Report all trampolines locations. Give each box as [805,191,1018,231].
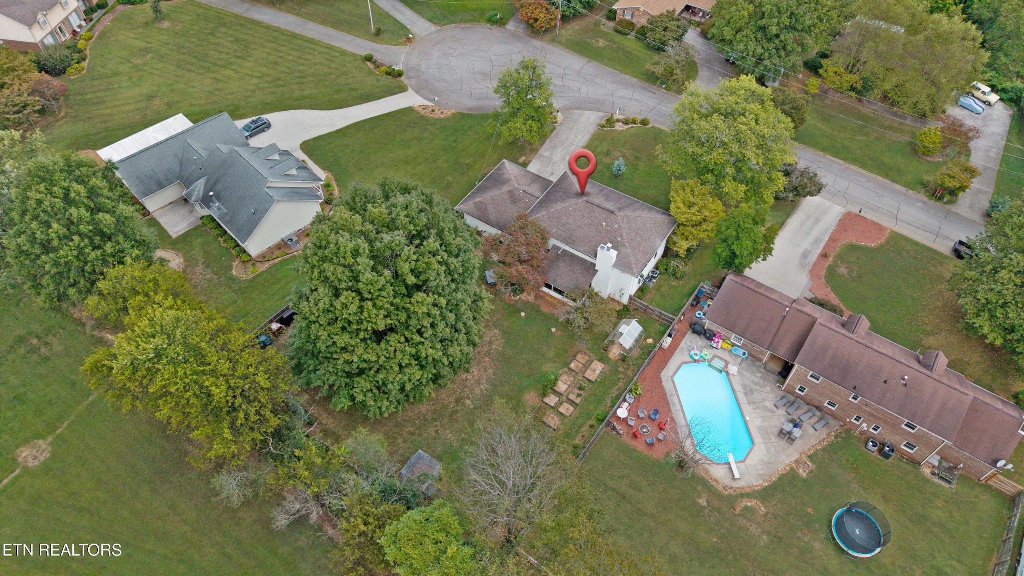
[826,502,892,564]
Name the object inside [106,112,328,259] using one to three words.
house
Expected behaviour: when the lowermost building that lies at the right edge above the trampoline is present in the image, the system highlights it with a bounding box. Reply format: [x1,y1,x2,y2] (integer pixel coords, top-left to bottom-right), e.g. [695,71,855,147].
[703,270,1024,480]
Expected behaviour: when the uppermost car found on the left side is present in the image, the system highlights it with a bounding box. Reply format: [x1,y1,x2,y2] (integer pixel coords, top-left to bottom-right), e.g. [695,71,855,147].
[238,114,271,138]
